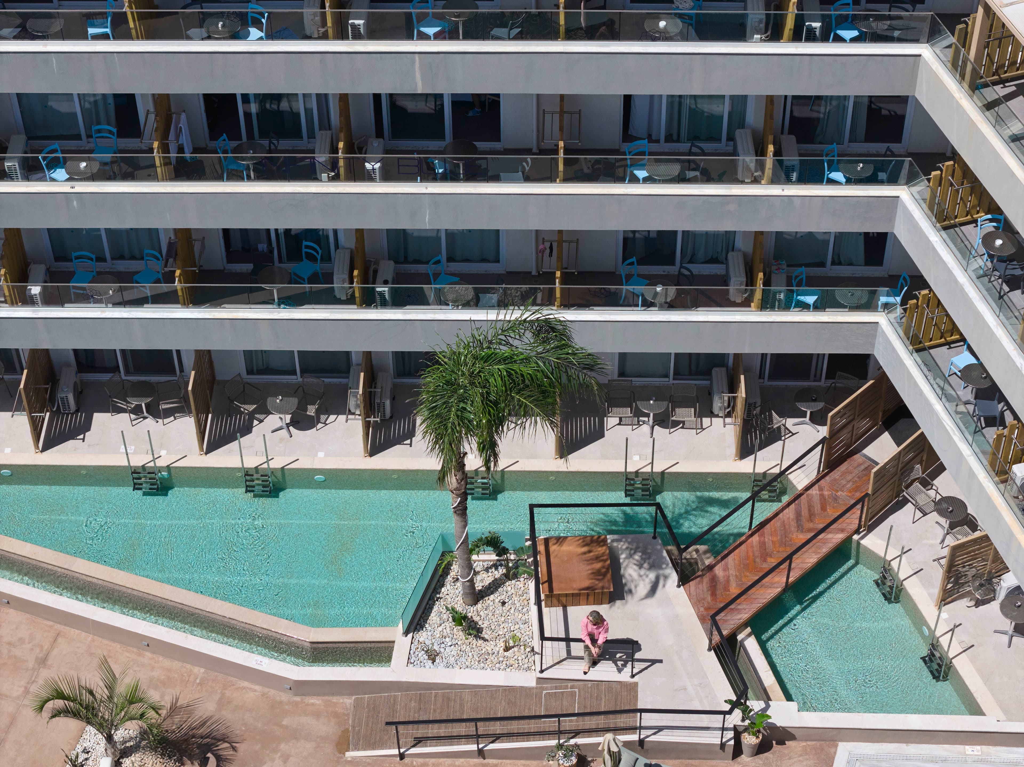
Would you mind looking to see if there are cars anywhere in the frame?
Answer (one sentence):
No, I can see no car in this picture.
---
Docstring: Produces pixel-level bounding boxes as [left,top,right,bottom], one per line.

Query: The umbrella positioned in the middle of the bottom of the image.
[592,732,629,767]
